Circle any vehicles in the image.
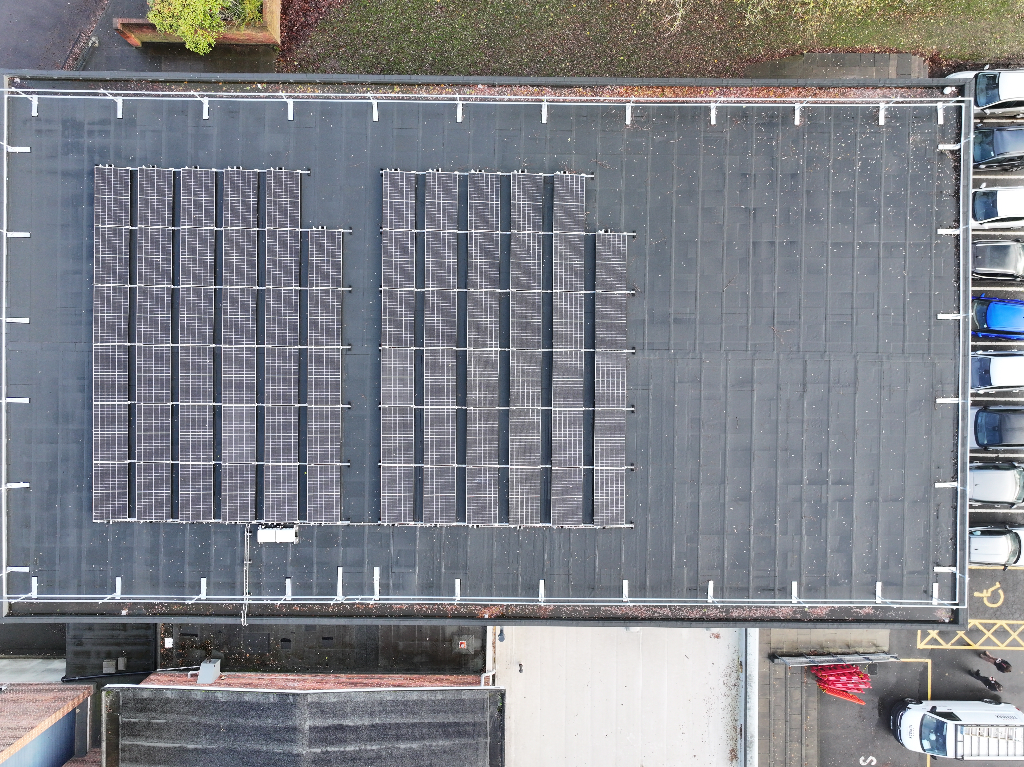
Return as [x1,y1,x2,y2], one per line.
[973,179,1024,234]
[889,696,1024,763]
[972,288,1024,341]
[971,401,1024,455]
[971,345,1024,399]
[940,61,1024,121]
[974,118,1024,175]
[973,231,1024,287]
[969,522,1024,573]
[970,458,1024,513]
